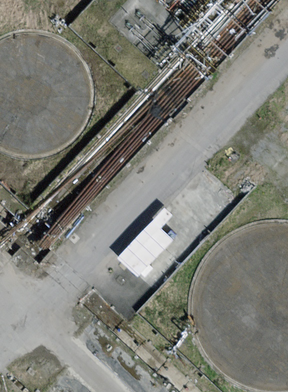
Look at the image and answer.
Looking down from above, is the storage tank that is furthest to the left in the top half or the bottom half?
top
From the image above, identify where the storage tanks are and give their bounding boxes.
[188,219,288,392]
[0,30,94,158]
